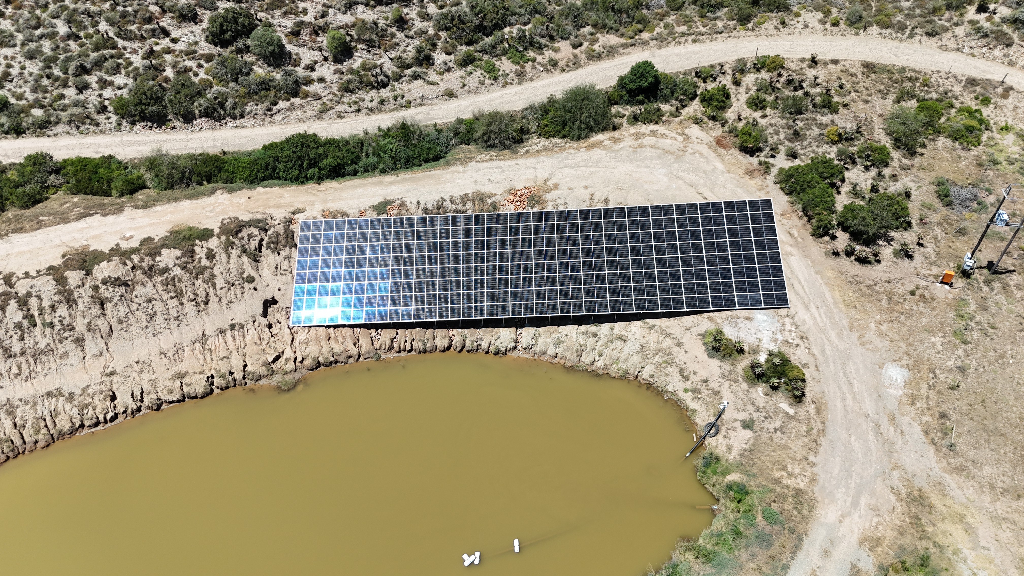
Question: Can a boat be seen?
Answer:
No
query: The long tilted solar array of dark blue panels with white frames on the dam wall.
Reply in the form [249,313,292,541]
[291,199,789,332]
